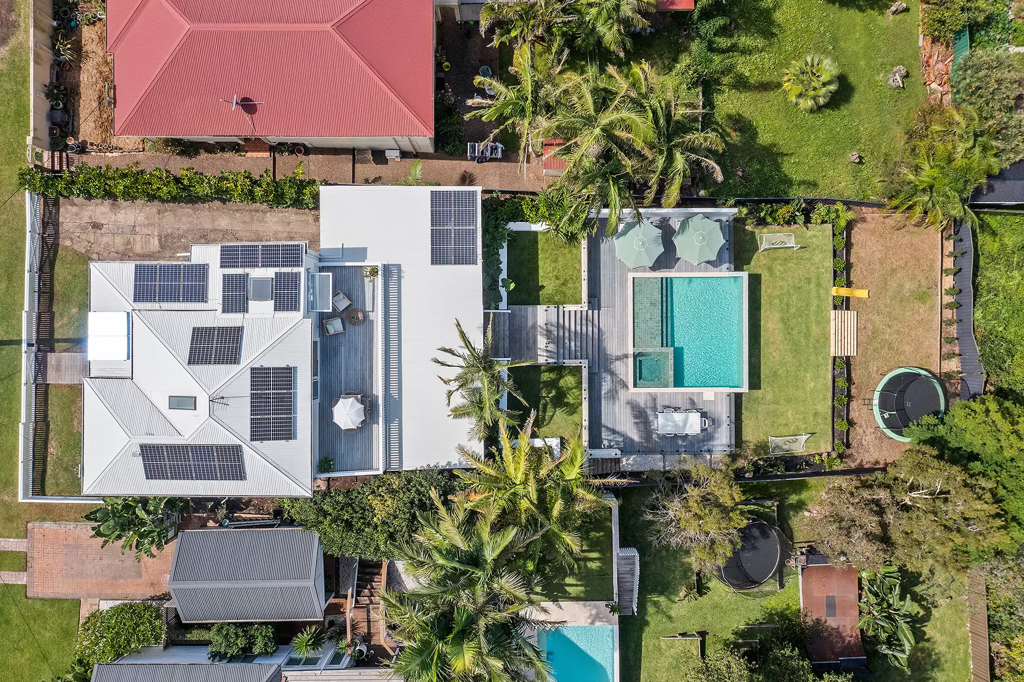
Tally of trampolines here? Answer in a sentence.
Looking from above, you can make out 2 trampolines.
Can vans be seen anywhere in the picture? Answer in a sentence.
No, there appears to be no van in this shot.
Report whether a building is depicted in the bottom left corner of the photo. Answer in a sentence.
Yes, there is a building in the bottom left corner of the photo.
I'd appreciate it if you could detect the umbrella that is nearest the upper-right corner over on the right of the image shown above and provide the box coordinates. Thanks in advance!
[671,213,724,266]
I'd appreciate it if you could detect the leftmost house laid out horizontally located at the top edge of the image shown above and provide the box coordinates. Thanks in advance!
[105,0,438,157]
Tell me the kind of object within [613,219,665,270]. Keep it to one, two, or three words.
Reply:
umbrella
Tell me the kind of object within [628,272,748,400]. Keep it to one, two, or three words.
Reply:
swimming pool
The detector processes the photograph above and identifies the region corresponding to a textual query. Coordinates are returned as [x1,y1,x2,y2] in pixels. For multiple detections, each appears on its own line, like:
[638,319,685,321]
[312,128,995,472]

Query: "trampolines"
[854,367,959,443]
[712,515,794,598]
